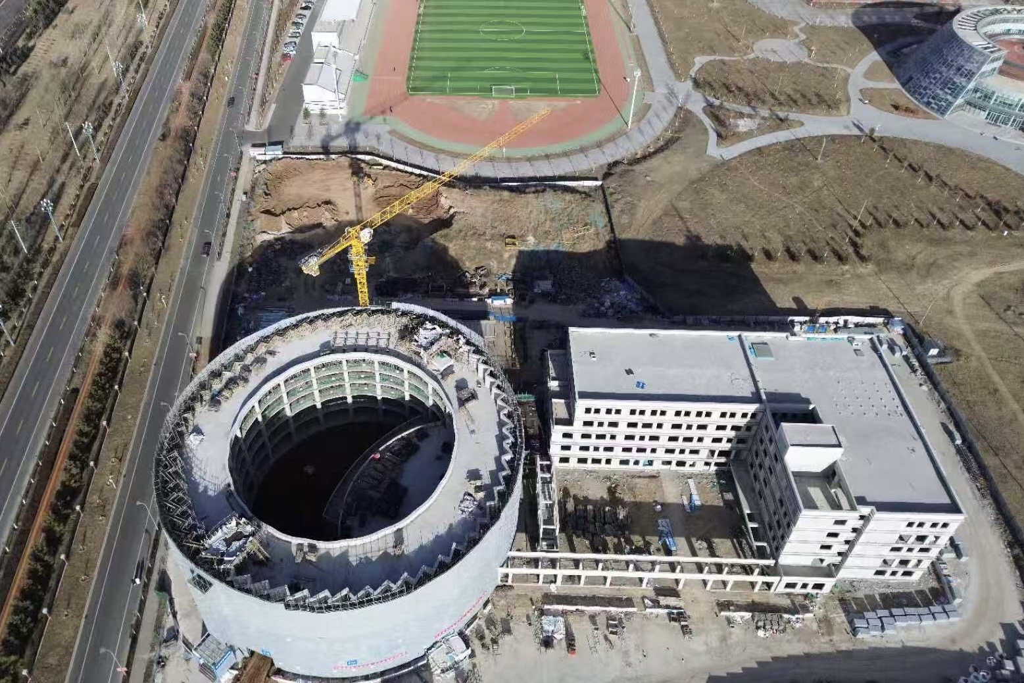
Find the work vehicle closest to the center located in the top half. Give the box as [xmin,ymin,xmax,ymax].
[502,233,521,245]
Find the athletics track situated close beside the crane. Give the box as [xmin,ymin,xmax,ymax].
[350,0,648,157]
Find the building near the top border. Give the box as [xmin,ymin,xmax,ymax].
[894,4,1024,134]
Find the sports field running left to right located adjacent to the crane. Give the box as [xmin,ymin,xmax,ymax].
[403,0,604,97]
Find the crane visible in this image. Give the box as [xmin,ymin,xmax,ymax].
[290,105,553,305]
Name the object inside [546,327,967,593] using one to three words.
building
